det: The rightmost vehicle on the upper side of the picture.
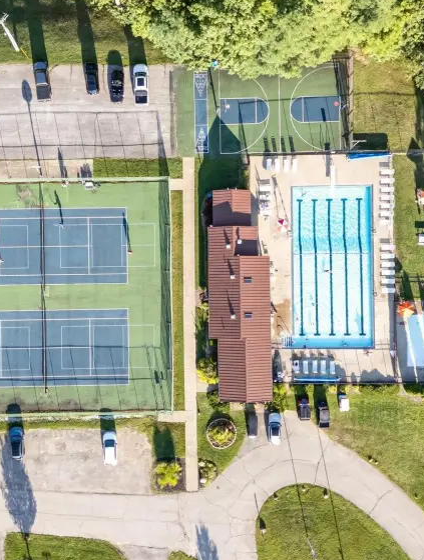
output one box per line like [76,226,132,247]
[132,64,149,108]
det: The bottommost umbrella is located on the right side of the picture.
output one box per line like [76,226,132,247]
[395,300,413,318]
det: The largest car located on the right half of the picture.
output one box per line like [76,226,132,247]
[267,411,282,445]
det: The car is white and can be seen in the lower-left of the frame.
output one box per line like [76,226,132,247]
[101,430,117,465]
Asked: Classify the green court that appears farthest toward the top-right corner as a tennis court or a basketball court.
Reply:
basketball court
